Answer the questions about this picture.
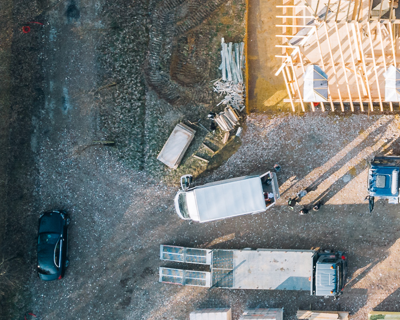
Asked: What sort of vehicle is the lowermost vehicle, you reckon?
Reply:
truck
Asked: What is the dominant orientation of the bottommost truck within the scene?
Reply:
horizontally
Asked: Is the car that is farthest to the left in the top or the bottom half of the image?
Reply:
bottom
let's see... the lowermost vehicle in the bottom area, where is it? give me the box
[161,247,348,297]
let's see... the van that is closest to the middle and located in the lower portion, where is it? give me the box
[170,170,287,227]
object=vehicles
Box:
[366,156,400,214]
[33,208,74,280]
[170,170,287,227]
[161,247,348,297]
